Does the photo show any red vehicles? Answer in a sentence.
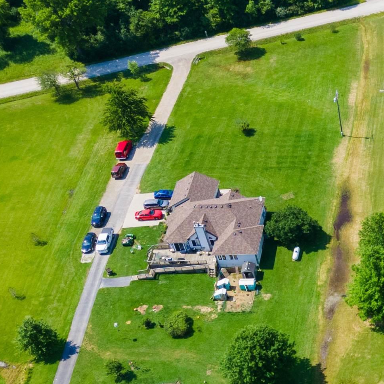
Yes, the frame does contain a red vehicle.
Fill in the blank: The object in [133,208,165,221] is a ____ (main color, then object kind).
red vehicle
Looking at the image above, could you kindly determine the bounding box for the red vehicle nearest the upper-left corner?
[113,140,132,158]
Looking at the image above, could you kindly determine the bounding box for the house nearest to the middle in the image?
[162,170,272,267]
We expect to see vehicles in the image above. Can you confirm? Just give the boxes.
[109,164,127,180]
[93,227,115,252]
[89,204,108,227]
[133,208,165,221]
[140,196,169,209]
[113,140,132,158]
[78,233,97,253]
[149,189,172,199]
